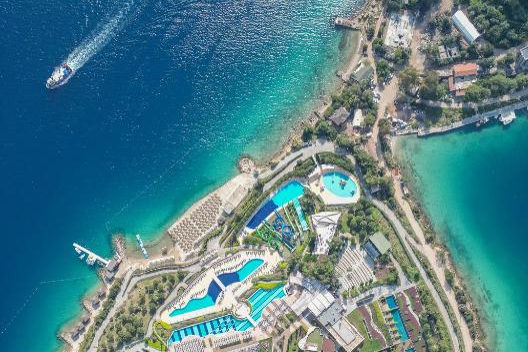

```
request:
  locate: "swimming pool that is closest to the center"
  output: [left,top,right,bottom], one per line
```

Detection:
[246,180,305,229]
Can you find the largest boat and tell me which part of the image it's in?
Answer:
top left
